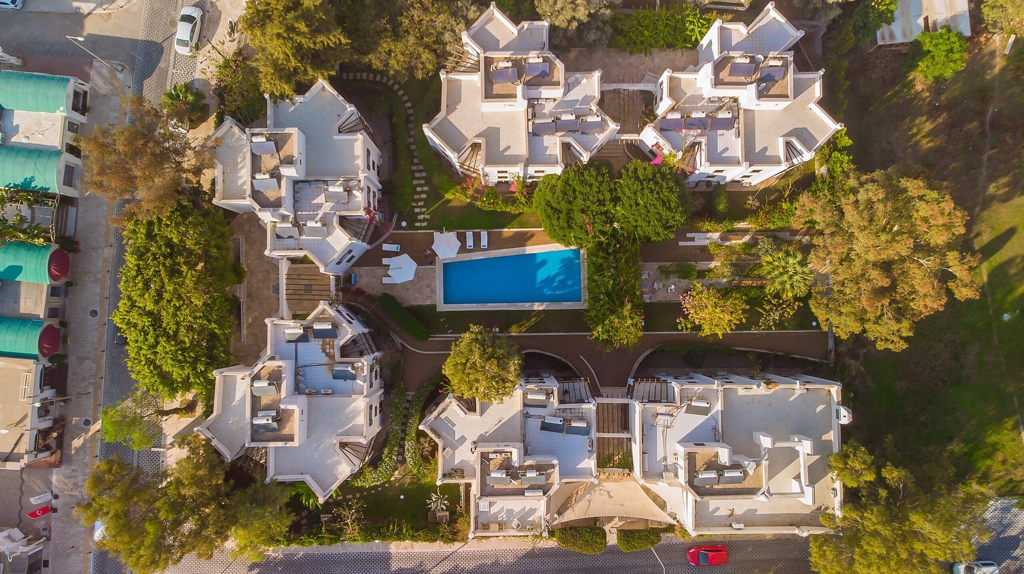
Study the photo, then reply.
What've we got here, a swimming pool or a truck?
swimming pool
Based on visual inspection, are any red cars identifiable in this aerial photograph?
Yes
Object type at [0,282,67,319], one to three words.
building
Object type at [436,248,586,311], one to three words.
swimming pool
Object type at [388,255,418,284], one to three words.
umbrella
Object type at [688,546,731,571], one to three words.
car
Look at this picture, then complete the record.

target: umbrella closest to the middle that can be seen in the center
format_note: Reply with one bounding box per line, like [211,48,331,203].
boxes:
[432,225,462,260]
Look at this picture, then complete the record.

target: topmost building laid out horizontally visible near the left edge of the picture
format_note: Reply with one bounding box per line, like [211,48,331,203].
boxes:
[0,71,92,123]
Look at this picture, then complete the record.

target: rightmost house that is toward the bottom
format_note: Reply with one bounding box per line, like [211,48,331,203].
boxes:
[622,363,855,537]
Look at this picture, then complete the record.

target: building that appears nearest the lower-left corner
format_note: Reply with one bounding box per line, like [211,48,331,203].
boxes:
[0,354,63,464]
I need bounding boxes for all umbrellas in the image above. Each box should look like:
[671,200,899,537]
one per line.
[432,225,462,260]
[388,255,418,284]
